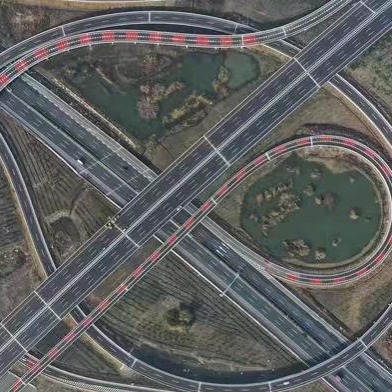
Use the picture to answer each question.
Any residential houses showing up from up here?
No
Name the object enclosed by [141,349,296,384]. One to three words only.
pond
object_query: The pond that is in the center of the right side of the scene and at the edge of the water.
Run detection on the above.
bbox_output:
[243,157,381,263]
